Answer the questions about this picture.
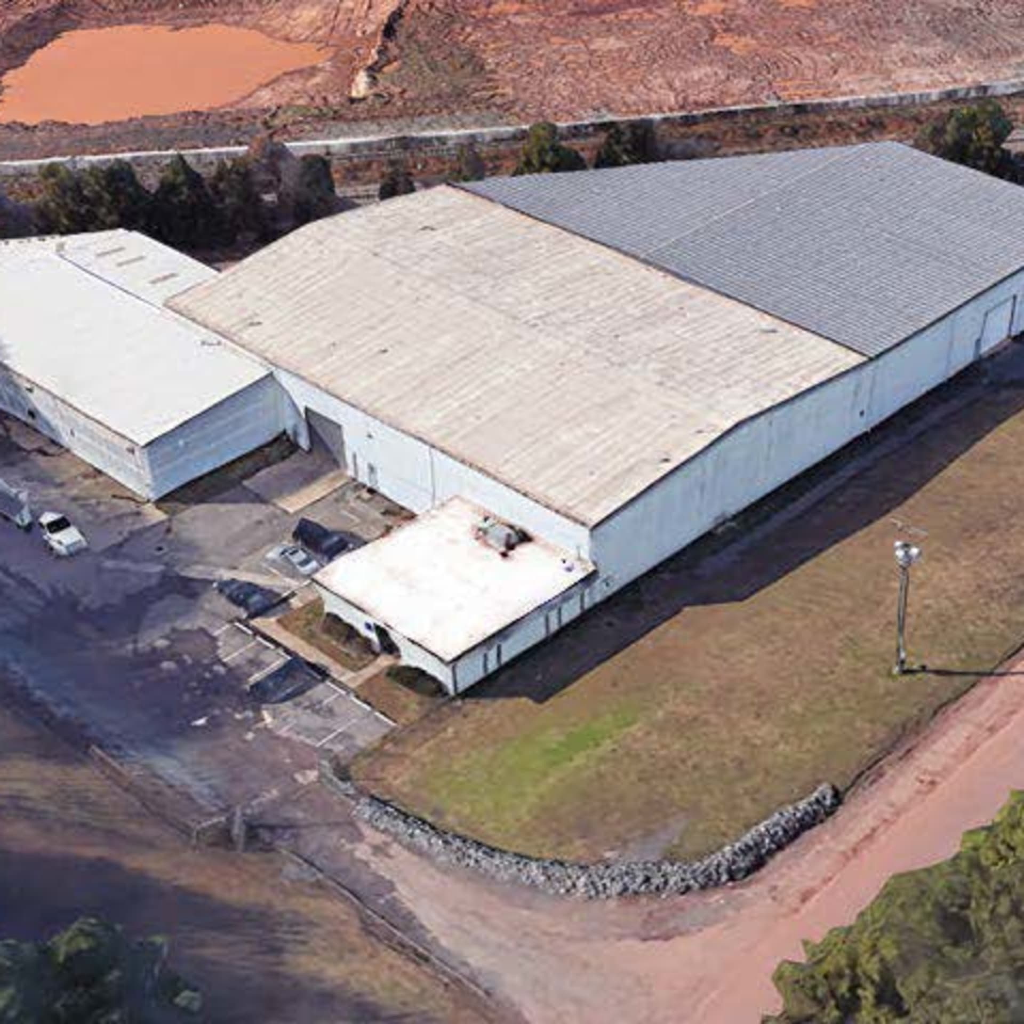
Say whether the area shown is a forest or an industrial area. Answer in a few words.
industrial area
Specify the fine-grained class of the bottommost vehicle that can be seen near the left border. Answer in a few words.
truck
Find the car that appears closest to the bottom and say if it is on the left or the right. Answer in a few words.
left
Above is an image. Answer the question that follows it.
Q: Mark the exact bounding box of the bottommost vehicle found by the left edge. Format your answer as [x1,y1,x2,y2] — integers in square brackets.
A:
[33,509,87,559]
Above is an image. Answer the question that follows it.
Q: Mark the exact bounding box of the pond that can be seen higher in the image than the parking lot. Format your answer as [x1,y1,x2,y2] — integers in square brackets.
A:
[0,24,337,126]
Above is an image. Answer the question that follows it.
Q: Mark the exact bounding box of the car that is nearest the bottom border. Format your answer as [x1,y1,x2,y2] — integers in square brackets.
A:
[249,662,308,700]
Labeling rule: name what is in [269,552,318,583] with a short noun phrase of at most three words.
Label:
car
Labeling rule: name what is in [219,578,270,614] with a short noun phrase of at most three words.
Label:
car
